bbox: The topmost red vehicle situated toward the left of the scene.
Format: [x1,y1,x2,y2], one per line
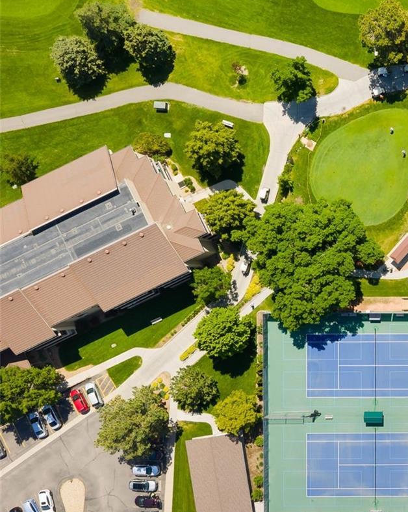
[72,388,91,415]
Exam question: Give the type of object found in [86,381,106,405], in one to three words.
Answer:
car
